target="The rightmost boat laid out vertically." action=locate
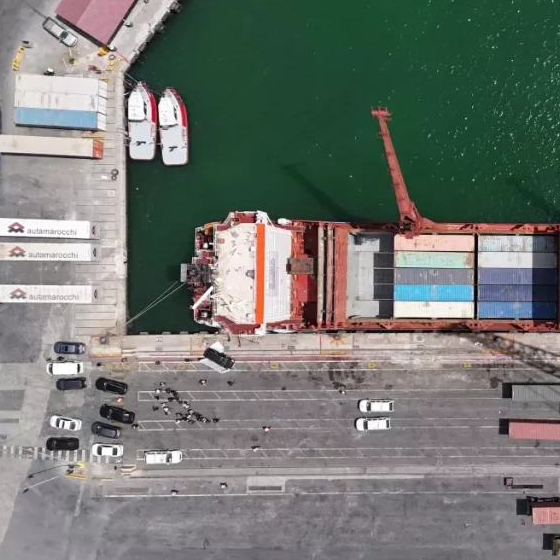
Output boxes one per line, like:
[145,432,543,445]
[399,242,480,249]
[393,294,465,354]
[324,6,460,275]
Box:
[158,87,191,168]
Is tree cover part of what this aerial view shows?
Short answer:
No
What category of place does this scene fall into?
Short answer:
port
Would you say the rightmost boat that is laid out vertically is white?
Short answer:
Yes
